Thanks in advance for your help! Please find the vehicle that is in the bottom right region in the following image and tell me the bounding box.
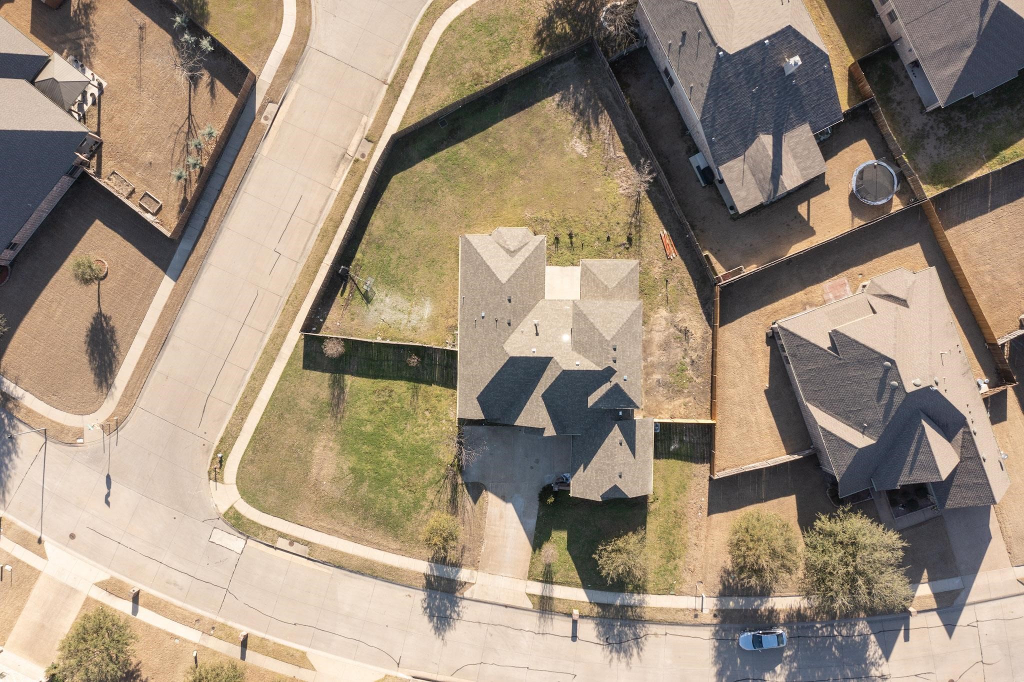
[739,628,789,655]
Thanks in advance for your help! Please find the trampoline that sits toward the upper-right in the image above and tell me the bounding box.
[851,158,908,207]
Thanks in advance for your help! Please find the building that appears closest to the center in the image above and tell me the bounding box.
[456,226,654,500]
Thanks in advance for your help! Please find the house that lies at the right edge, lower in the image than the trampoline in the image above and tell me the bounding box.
[766,266,1012,508]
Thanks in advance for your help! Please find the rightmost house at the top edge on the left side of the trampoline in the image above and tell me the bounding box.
[626,0,844,213]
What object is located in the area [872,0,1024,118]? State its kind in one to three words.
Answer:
house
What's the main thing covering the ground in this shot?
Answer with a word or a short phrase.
grass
